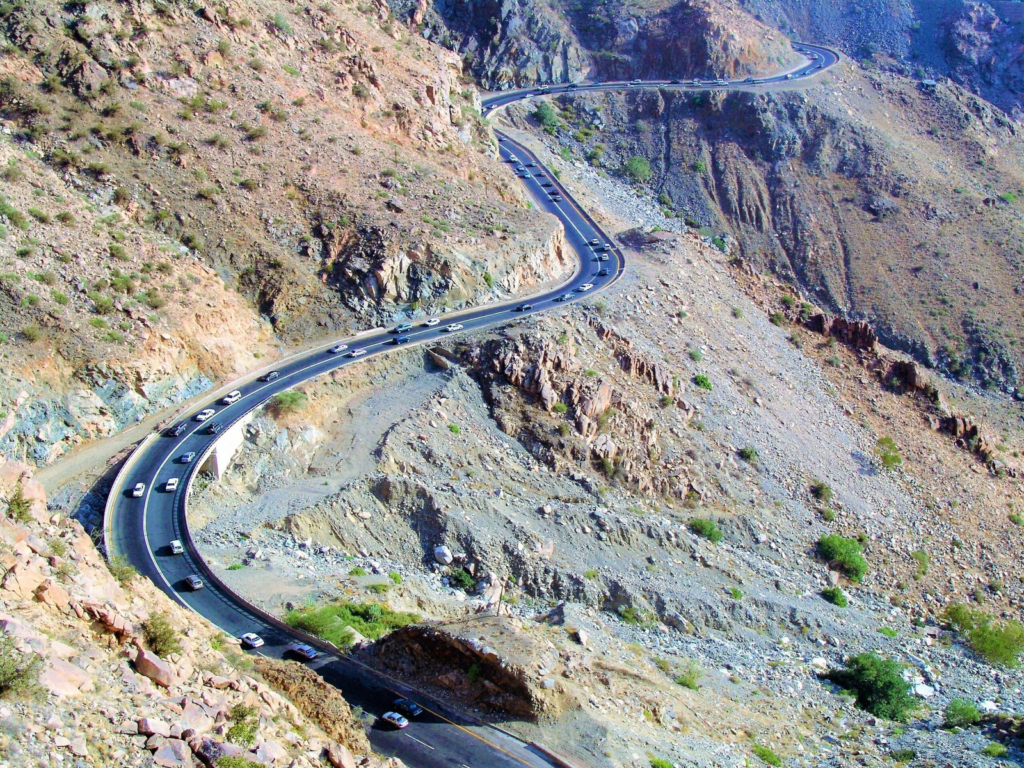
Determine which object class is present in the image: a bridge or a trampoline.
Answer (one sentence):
The one in the frame is a bridge.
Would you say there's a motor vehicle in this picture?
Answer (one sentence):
Yes, there's a motor vehicle down there.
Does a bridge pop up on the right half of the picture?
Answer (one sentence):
No, no bridge appears on the right half of the picture.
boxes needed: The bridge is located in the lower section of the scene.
[99,361,350,620]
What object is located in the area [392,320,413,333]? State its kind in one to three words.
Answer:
vehicle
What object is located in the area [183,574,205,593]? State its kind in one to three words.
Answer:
car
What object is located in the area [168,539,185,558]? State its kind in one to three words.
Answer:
car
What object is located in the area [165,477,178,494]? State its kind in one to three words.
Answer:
vehicle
